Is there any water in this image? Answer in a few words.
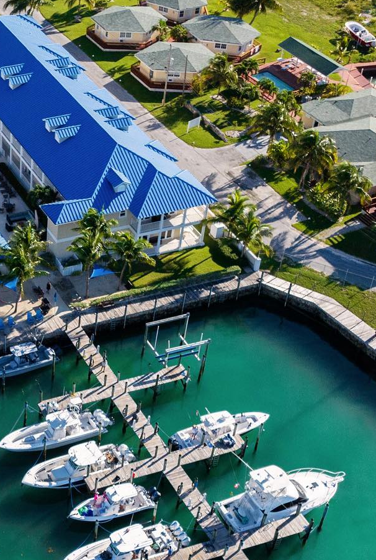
Yes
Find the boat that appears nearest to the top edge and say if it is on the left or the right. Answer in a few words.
right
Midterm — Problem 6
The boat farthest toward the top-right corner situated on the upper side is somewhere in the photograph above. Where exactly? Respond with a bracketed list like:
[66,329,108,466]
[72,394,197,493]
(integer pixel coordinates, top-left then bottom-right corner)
[343,22,376,53]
